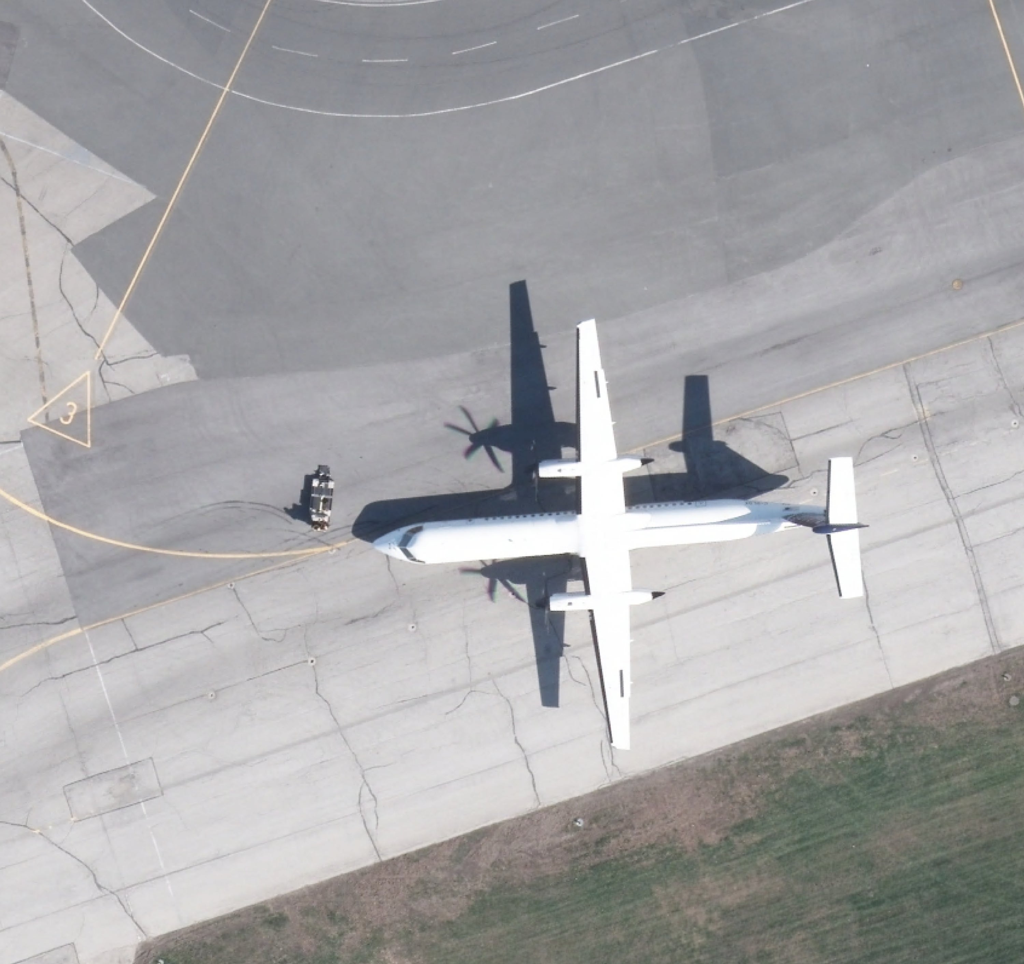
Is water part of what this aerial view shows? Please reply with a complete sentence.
No, the picture contains no water.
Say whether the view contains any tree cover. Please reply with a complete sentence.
No, the scene doesn't show any tree cover.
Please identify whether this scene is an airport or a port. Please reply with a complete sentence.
This looks like an airport.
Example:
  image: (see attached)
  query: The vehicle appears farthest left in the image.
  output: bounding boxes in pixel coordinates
[310,465,334,532]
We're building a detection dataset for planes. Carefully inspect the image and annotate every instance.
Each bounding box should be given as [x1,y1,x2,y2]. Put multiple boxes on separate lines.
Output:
[373,320,869,749]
